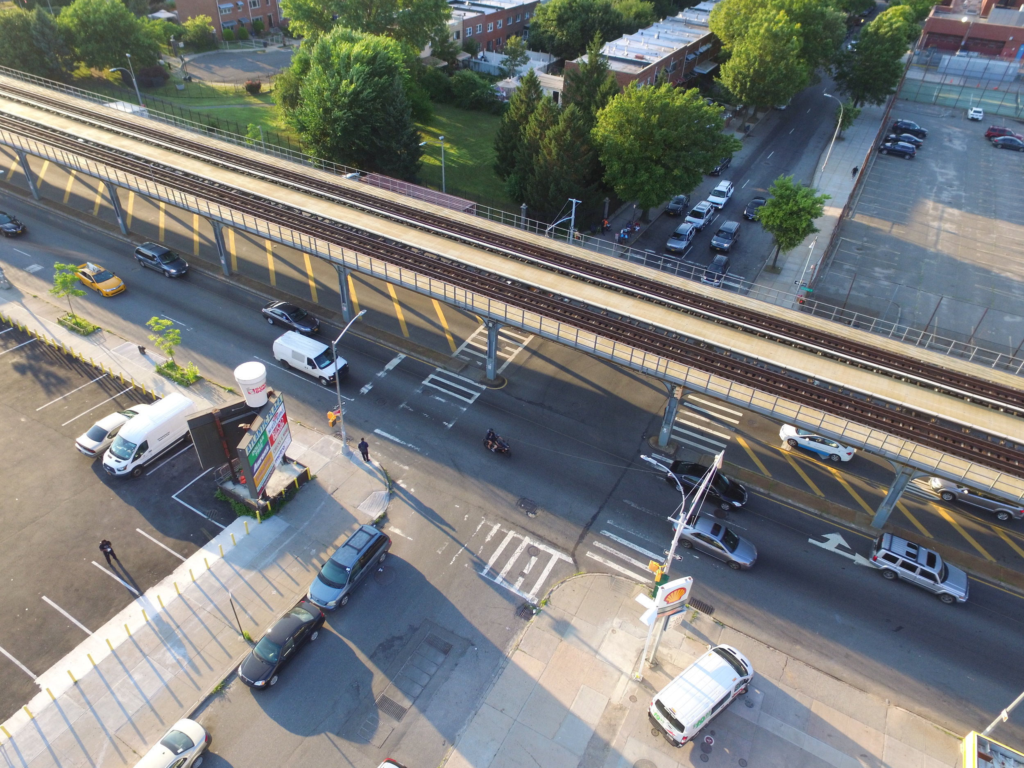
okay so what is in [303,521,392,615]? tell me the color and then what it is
blue car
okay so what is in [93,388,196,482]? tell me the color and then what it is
white van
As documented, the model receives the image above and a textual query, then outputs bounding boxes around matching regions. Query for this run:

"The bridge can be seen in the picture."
[0,64,1024,538]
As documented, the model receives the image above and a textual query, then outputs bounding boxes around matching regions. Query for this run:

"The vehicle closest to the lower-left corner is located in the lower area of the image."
[125,718,208,768]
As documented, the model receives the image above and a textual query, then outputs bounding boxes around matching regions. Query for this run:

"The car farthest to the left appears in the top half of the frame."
[0,210,26,236]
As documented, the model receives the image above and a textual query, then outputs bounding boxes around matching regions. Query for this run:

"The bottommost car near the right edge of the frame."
[875,531,979,607]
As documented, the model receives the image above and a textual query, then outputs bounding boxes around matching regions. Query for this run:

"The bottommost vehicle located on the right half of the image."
[649,644,758,751]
